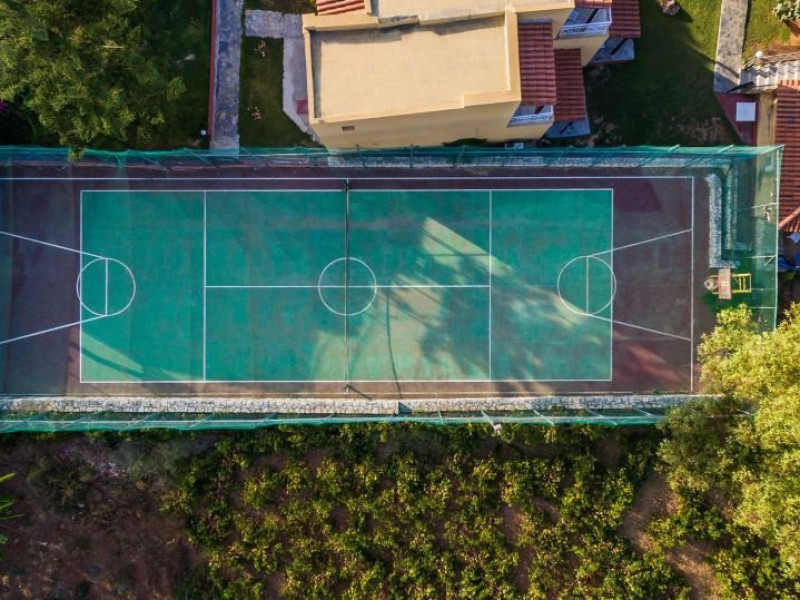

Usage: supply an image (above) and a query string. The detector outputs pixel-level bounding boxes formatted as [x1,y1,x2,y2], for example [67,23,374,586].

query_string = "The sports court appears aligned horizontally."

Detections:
[0,168,737,398]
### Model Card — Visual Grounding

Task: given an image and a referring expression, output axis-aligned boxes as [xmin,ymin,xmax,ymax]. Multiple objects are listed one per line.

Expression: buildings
[752,66,800,241]
[304,9,591,162]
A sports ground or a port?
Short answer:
sports ground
